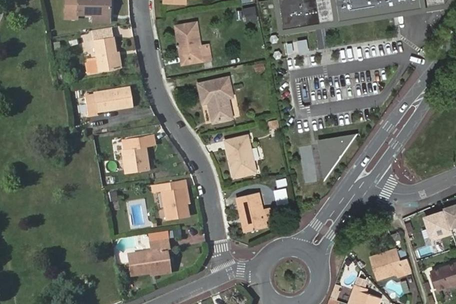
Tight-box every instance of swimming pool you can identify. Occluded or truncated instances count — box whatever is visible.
[106,161,118,172]
[116,236,138,252]
[384,278,403,296]
[130,204,145,226]
[344,272,358,286]
[418,245,433,258]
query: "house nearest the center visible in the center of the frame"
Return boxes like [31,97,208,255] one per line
[224,134,257,180]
